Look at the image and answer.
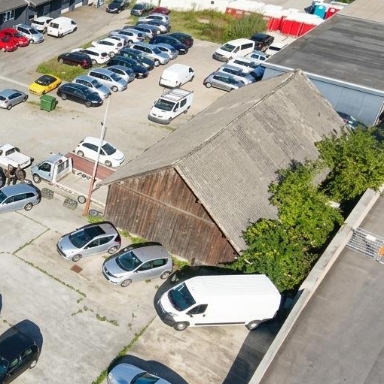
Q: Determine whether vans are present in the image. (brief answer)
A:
Yes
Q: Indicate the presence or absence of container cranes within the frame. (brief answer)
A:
No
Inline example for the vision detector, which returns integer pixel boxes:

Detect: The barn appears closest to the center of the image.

[89,66,345,275]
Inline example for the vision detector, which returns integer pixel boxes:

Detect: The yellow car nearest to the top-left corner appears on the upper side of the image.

[27,71,63,93]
